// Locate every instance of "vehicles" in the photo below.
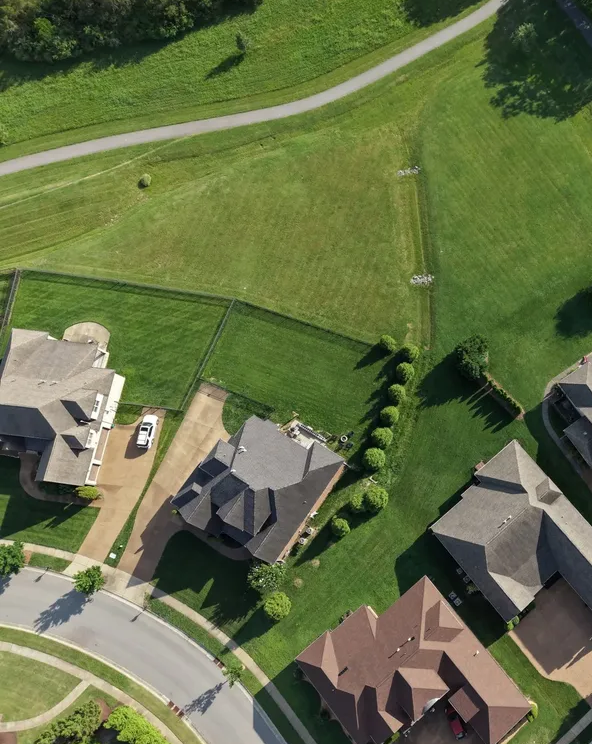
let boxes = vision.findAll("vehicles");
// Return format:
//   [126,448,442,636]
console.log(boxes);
[136,415,159,451]
[442,703,468,742]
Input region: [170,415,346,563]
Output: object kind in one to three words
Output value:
house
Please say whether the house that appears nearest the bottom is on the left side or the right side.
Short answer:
right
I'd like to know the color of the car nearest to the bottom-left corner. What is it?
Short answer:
white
